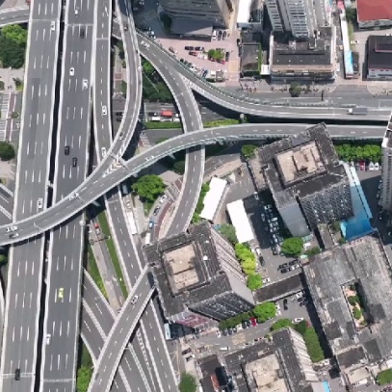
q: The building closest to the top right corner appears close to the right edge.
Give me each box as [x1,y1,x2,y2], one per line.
[355,0,392,28]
